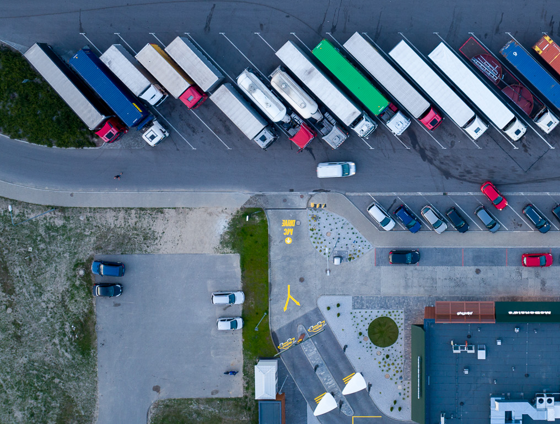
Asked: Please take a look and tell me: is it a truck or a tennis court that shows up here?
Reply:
truck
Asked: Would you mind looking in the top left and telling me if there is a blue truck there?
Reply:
Yes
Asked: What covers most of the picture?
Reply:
paved ground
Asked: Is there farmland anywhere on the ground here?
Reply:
No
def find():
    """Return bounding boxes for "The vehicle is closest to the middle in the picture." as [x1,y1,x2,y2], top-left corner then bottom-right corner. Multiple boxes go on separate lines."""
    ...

[316,162,356,178]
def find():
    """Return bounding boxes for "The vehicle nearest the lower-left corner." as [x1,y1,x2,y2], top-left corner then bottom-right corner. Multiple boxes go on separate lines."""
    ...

[93,281,123,298]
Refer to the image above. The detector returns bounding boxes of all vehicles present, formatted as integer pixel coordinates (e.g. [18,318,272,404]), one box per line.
[68,47,173,149]
[212,290,246,306]
[316,162,356,178]
[523,203,551,235]
[394,204,422,235]
[428,42,528,142]
[276,40,378,140]
[23,42,129,144]
[220,372,238,378]
[99,44,172,109]
[389,40,489,140]
[497,39,560,112]
[551,204,560,222]
[217,315,245,333]
[421,205,449,235]
[529,33,560,76]
[482,180,507,210]
[389,249,420,267]
[521,252,553,269]
[93,281,123,298]
[366,200,396,231]
[134,43,211,111]
[312,37,412,135]
[343,31,444,131]
[445,206,470,233]
[91,260,126,278]
[236,67,317,148]
[269,65,349,149]
[474,205,502,232]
